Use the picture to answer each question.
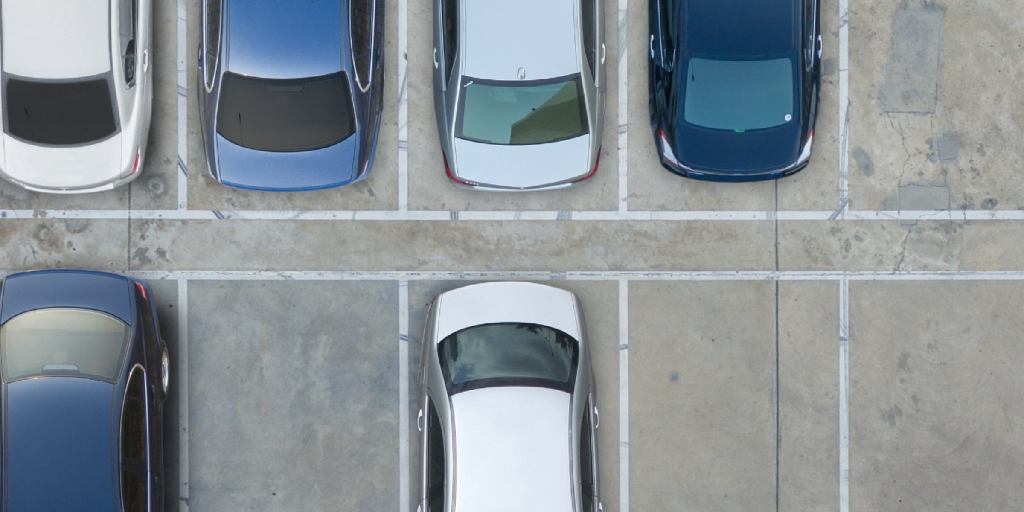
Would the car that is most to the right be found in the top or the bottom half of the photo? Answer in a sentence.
Seen from above, the car that is most to the right lies in the top half of the view.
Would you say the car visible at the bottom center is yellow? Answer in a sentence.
No, from above the car visible at the bottom center looks white.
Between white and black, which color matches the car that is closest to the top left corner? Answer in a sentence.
The car that is closest to the top left corner looks white in the image.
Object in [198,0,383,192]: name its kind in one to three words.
car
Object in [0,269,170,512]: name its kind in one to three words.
car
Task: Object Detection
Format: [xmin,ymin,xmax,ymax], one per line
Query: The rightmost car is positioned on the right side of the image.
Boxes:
[648,0,822,182]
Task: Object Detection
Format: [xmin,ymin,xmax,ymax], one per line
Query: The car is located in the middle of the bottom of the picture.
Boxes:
[420,281,600,512]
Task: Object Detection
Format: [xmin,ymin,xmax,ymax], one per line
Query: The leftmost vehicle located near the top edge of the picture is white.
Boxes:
[0,0,155,194]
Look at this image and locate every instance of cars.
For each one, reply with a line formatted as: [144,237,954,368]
[198,0,383,192]
[433,0,603,192]
[420,281,600,512]
[0,0,155,194]
[0,269,170,512]
[648,0,822,182]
